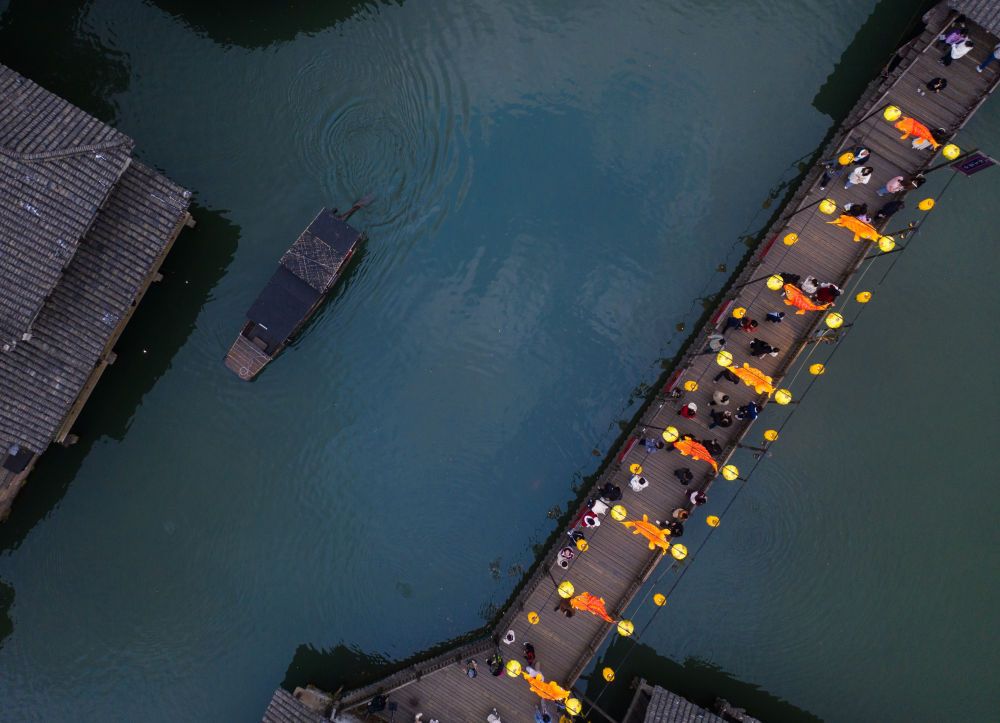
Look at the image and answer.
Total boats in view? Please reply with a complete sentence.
There is 1 boat in the image.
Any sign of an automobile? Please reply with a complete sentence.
No, I can see no automobile in this picture.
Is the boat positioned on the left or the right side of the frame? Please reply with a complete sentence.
The boat is on the left side of the image.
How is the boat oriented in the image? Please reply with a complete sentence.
In this picture, the boat lies diagonally.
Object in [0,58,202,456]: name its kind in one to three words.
house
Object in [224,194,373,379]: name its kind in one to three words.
boat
